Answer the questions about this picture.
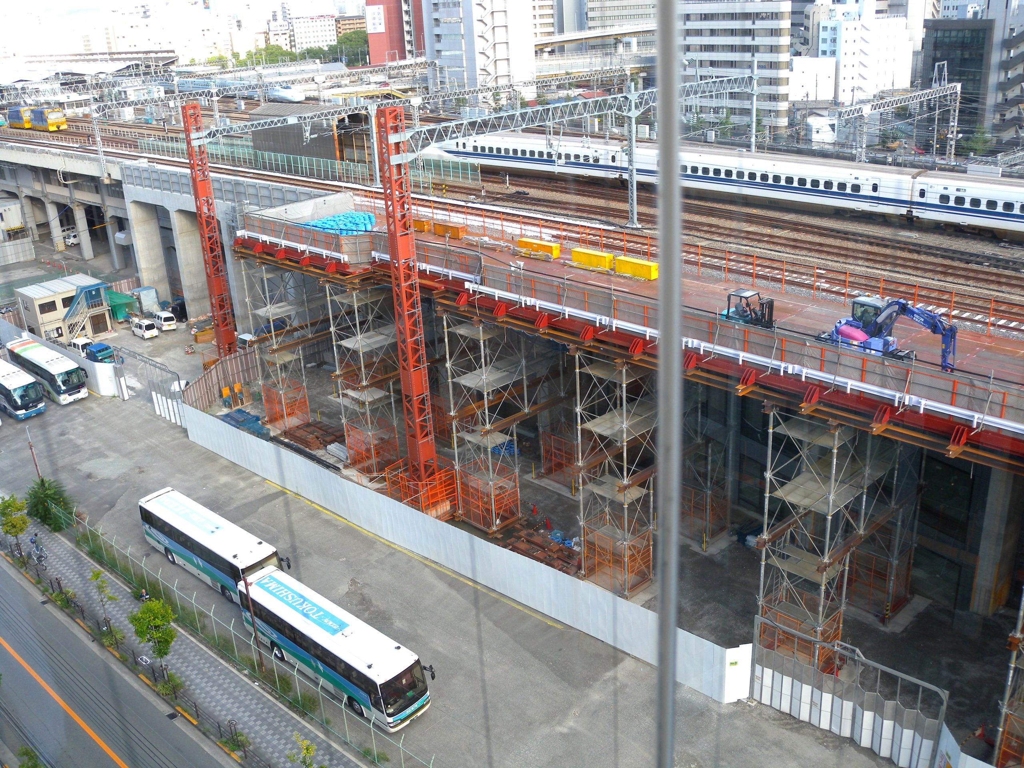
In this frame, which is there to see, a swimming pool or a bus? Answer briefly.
bus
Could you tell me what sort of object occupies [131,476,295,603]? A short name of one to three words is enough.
bus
